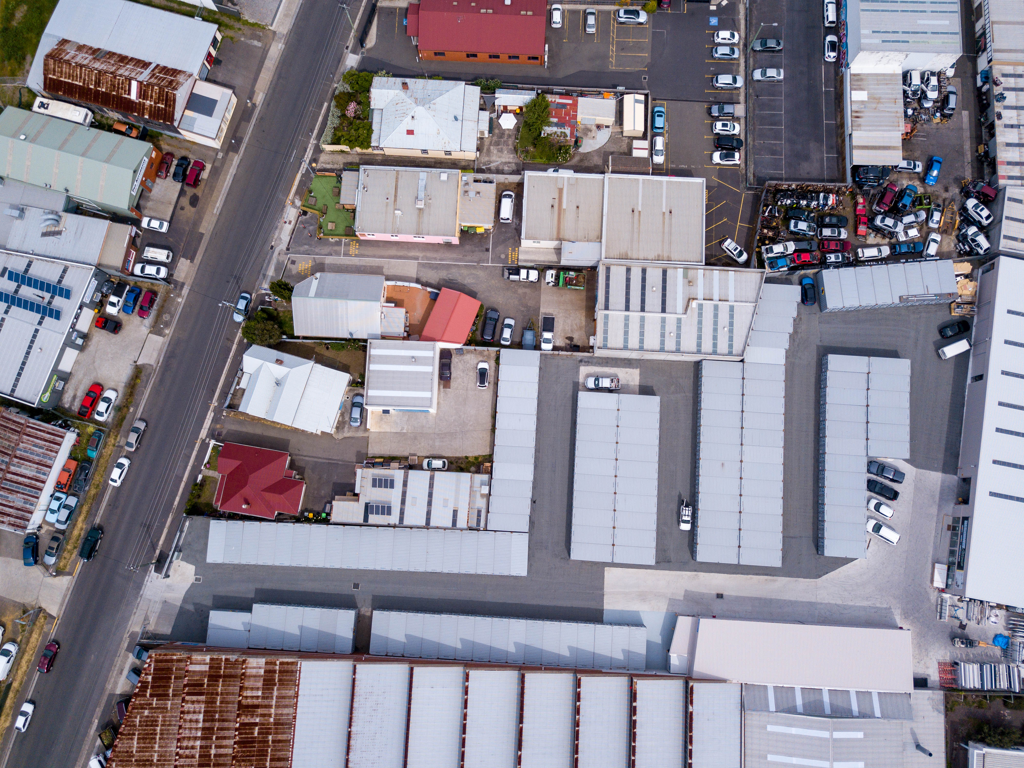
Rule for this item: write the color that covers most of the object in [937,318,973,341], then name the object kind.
black car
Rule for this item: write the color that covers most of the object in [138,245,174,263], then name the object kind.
white vehicle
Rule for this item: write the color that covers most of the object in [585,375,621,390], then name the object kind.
white vehicle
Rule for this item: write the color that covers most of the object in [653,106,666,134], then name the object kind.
blue vehicle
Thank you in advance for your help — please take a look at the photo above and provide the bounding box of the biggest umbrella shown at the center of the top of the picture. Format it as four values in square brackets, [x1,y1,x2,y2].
[499,114,517,129]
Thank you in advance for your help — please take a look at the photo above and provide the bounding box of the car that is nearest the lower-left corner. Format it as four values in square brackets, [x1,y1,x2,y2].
[12,700,36,734]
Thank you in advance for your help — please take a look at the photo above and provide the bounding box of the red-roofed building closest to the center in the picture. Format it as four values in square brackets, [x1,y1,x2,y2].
[420,288,481,346]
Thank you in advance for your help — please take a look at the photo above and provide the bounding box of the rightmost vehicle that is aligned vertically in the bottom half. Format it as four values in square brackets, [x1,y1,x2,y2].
[679,502,693,533]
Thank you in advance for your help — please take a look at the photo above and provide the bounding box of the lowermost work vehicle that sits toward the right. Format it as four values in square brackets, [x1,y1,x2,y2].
[951,637,993,649]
